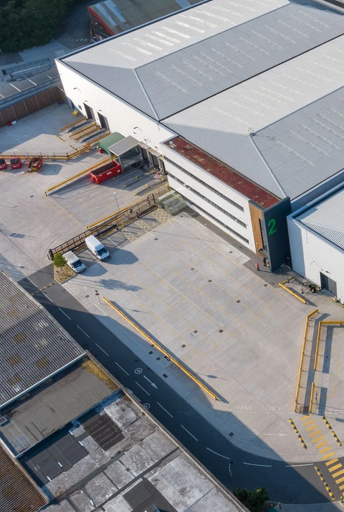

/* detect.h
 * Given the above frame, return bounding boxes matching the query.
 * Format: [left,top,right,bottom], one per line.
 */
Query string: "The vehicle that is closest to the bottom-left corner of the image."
[62,249,86,273]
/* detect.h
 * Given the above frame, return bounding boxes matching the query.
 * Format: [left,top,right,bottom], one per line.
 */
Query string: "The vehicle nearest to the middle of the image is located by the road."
[84,232,110,261]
